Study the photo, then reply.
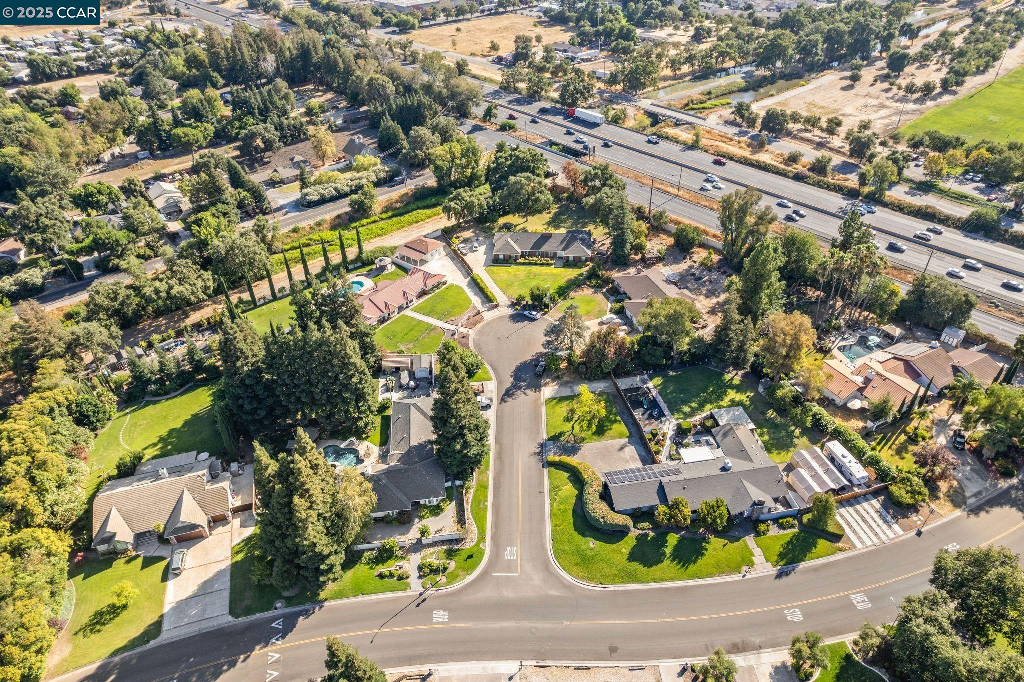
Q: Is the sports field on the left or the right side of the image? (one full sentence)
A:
The sports field sits on the right side.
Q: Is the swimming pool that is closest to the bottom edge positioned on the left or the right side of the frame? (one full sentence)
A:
The swimming pool that is closest to the bottom edge appears in the left half of the scene.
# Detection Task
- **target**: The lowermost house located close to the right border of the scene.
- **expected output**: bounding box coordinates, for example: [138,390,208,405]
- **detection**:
[822,339,998,431]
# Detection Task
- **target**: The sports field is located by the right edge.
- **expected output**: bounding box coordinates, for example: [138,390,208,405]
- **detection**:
[900,52,1024,153]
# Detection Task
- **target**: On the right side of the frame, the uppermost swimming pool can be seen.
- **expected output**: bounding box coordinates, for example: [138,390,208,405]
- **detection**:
[837,335,883,364]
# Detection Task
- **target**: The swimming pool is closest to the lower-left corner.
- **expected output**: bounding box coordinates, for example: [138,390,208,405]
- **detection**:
[322,446,362,472]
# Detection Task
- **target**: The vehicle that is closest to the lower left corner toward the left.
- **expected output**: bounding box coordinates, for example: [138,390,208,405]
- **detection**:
[168,544,187,573]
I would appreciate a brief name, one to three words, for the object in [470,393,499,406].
vehicle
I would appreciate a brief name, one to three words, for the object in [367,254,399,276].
gazebo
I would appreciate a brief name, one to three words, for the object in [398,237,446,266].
building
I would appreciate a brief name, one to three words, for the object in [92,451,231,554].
house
